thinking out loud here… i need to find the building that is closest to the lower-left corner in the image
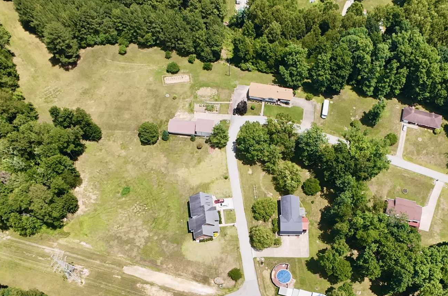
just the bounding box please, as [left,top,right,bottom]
[189,194,220,239]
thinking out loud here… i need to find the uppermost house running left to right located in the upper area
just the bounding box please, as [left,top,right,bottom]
[249,83,293,103]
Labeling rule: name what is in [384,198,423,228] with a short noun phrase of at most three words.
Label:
house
